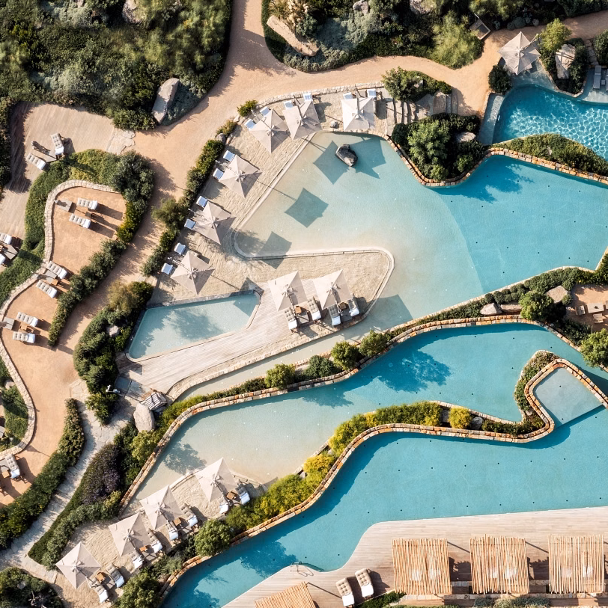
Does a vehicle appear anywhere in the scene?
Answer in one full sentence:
No, there's no vehicle here.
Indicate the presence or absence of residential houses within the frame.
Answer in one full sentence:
No, no residential house is visible in the scene.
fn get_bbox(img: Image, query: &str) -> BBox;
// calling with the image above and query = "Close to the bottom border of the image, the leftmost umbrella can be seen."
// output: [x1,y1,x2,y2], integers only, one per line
[57,541,113,587]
